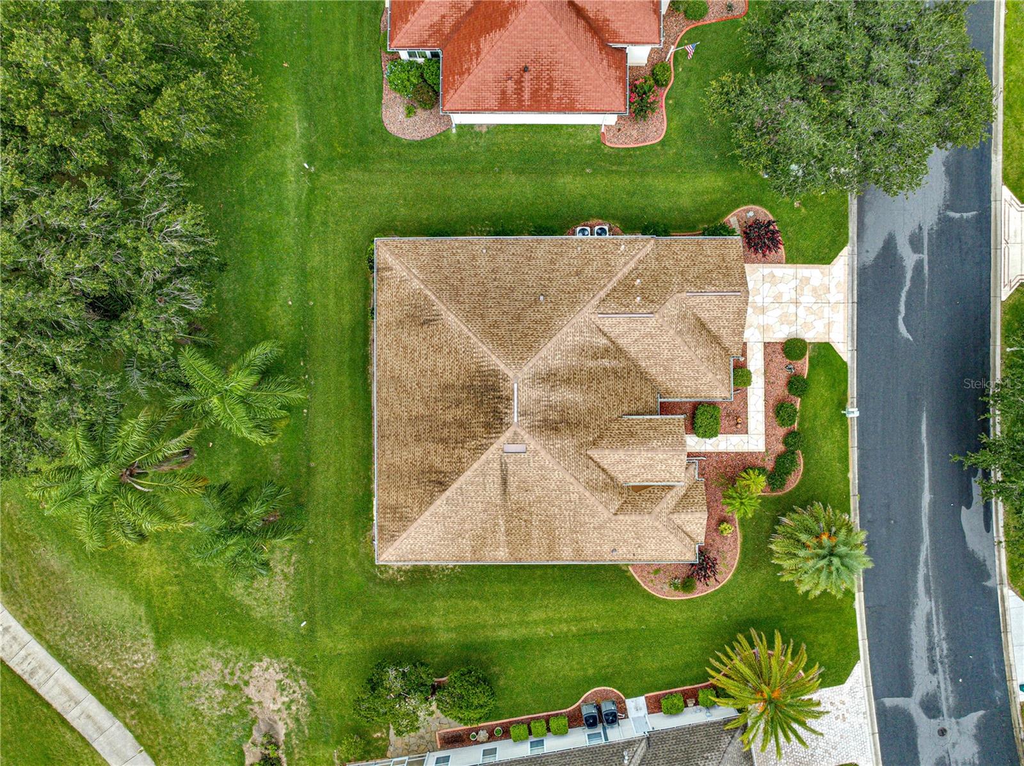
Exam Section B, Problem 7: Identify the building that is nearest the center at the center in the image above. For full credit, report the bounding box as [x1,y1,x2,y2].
[374,236,751,565]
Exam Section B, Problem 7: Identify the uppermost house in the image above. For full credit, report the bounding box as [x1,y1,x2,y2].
[387,0,663,134]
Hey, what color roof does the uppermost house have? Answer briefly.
red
